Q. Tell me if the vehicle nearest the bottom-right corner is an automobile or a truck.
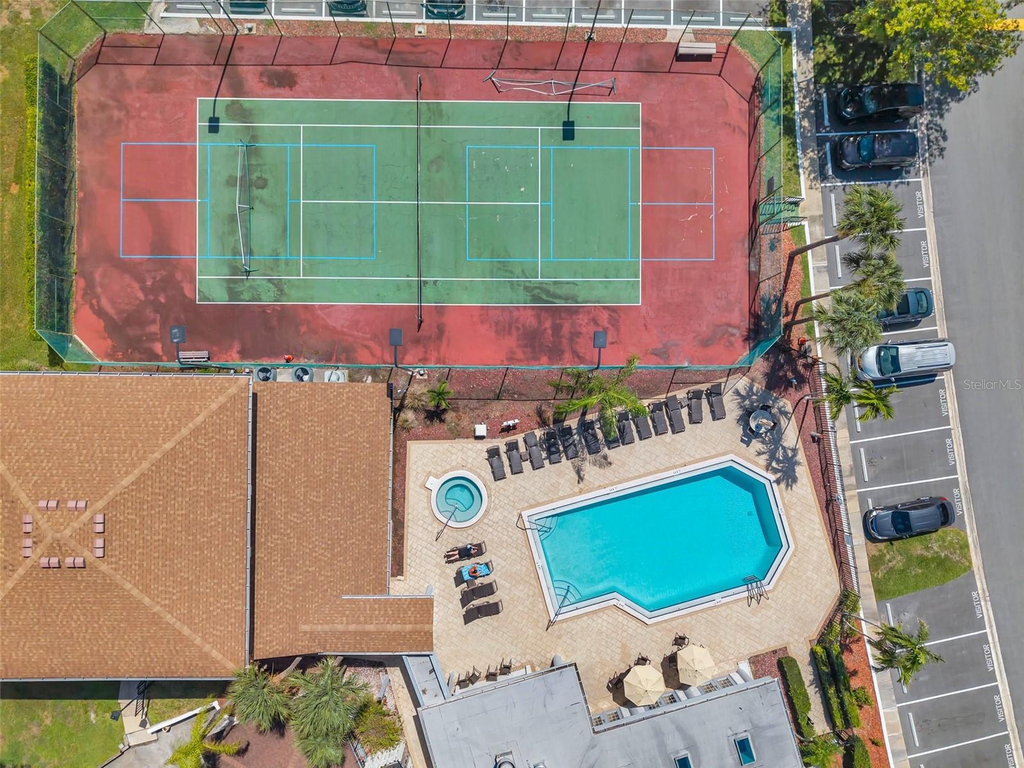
automobile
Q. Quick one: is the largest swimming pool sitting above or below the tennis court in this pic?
below it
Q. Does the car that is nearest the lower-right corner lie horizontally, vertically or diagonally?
horizontally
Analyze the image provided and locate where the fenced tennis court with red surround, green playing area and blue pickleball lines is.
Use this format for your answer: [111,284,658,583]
[75,33,760,366]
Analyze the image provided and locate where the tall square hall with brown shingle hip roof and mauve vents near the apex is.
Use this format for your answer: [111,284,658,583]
[0,371,254,681]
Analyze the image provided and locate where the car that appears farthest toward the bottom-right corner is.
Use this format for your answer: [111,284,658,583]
[858,497,954,547]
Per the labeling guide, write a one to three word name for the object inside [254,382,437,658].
building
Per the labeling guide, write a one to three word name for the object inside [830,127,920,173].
car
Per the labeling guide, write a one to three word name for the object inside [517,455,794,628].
swimming pool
